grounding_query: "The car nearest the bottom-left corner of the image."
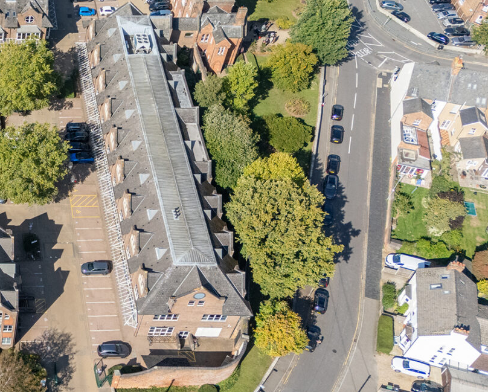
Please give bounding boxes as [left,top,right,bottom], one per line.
[96,341,128,357]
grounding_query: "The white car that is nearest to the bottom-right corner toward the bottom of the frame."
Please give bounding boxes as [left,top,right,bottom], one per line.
[393,359,429,376]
